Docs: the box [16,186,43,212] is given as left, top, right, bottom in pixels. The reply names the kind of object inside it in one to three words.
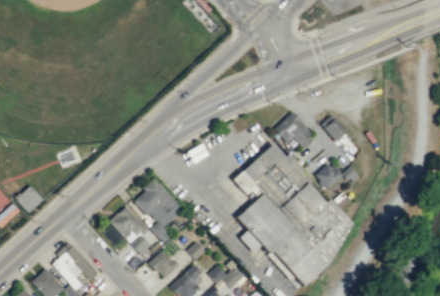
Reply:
building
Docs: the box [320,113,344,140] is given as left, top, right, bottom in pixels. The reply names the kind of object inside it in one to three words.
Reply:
house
